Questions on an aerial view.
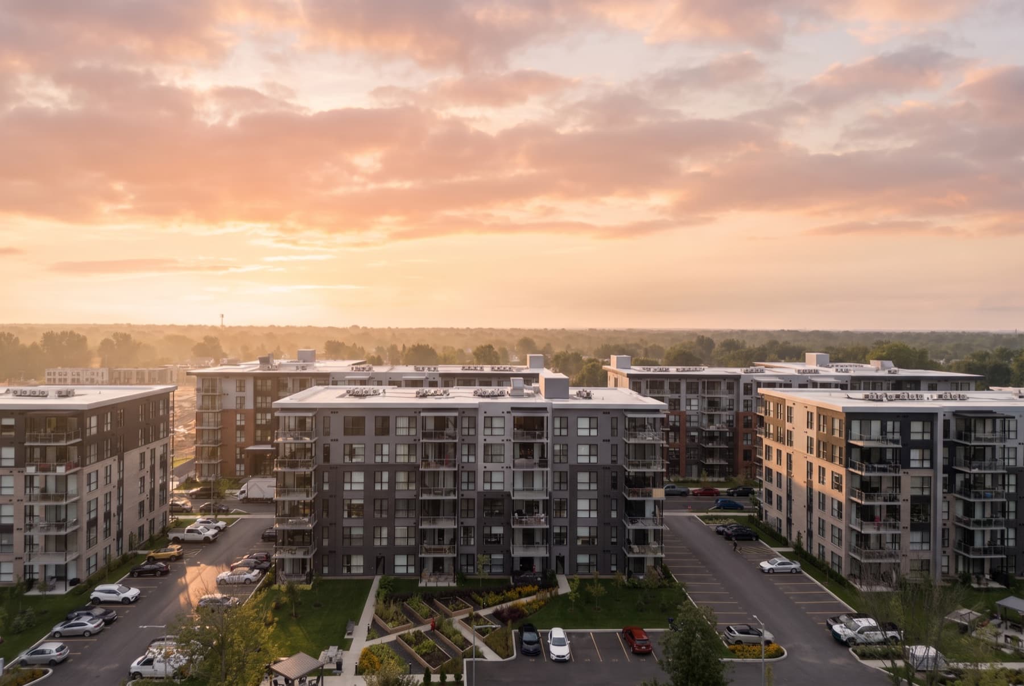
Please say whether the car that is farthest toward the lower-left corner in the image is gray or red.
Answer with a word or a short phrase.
gray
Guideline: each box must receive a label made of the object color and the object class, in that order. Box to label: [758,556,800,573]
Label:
gray car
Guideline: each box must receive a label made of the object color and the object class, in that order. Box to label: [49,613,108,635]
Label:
gray car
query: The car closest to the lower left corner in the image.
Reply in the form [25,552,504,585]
[14,639,74,664]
